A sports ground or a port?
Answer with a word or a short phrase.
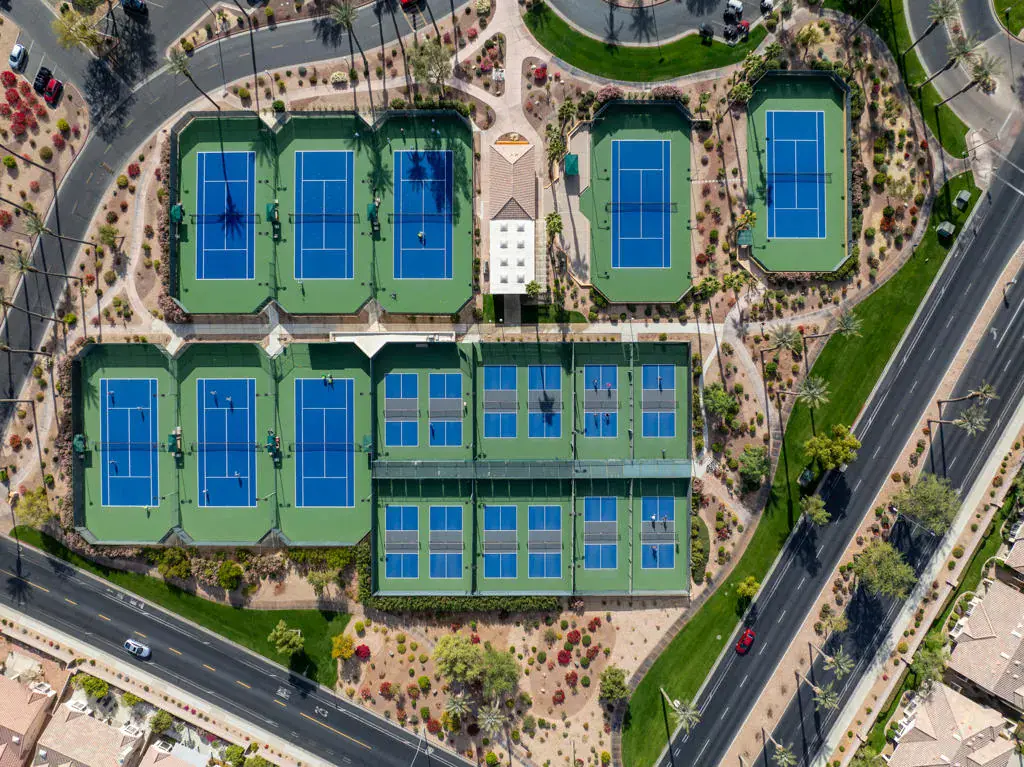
sports ground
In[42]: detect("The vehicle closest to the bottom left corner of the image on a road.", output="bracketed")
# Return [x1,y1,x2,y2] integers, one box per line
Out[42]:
[122,641,149,661]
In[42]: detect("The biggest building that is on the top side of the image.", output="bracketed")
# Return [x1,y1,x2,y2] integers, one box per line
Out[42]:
[489,144,535,296]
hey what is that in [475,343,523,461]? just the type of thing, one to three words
sports court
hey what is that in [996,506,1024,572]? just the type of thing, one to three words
house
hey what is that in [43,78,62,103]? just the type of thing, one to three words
car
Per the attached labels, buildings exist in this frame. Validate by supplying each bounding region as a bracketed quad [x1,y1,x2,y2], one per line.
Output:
[140,737,217,767]
[945,579,1024,710]
[0,669,63,767]
[883,679,1011,767]
[32,696,148,767]
[489,144,535,296]
[996,506,1024,572]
